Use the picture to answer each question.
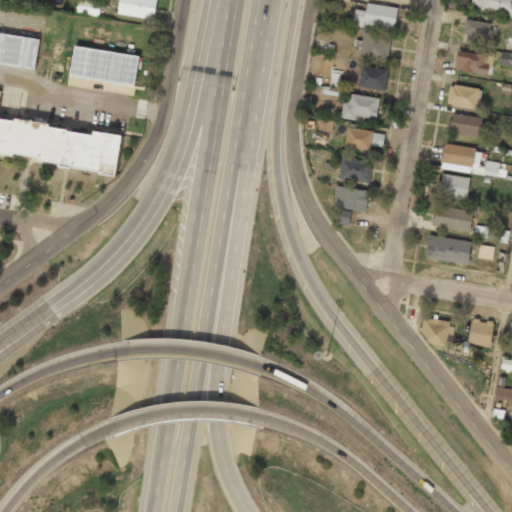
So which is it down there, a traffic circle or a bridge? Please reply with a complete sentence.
Of the two, only a bridge appears.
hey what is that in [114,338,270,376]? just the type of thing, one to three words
bridge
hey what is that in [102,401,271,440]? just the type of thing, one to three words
bridge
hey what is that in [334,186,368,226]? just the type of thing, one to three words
house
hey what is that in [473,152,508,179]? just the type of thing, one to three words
building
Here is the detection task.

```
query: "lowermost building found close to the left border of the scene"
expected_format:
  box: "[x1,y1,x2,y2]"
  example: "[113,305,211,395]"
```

[0,118,124,176]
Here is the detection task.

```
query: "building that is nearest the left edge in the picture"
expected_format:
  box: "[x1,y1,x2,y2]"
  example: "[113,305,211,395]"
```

[0,33,41,70]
